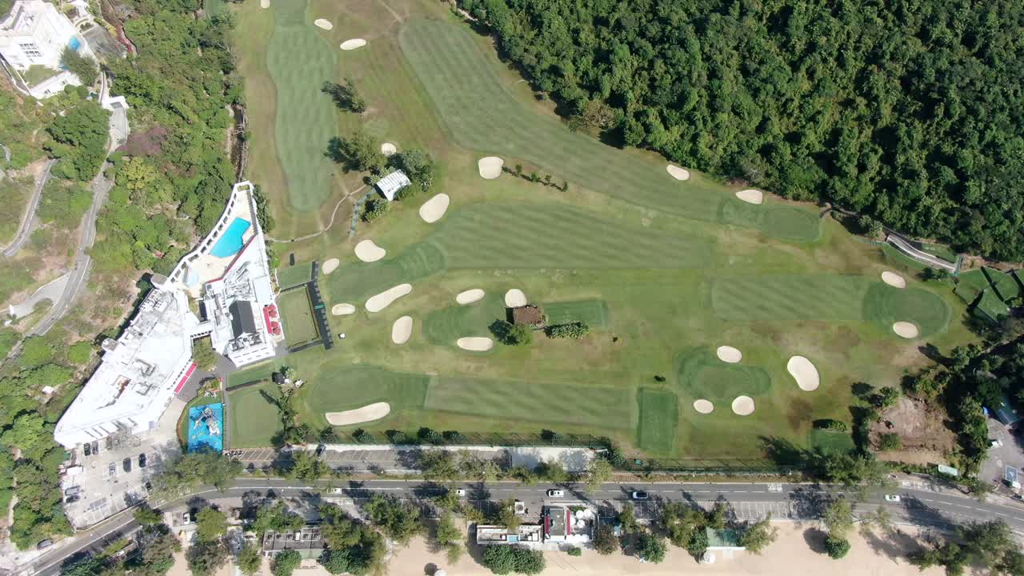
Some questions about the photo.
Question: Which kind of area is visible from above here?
golf course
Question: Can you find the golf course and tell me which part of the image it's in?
center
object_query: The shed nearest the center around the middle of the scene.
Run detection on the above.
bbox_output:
[513,307,544,326]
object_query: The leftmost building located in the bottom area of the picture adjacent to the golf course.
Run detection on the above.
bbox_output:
[54,283,200,449]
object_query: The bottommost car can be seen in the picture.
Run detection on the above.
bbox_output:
[37,538,54,550]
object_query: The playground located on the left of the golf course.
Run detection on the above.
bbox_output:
[189,402,223,453]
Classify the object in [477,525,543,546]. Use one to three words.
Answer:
building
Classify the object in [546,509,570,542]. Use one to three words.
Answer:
building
